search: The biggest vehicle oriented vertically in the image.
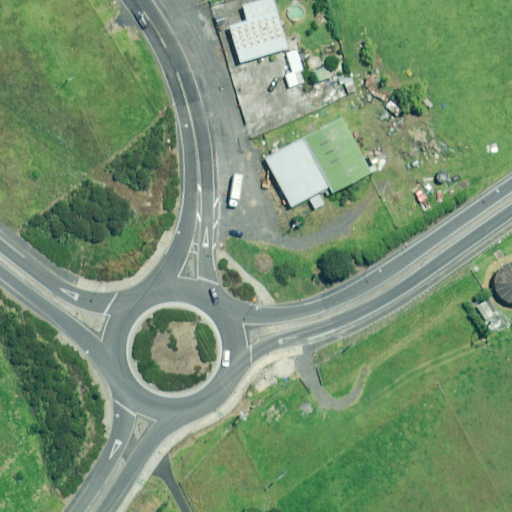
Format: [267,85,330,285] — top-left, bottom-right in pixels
[228,173,242,208]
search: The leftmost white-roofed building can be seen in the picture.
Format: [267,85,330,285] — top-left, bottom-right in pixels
[230,0,287,64]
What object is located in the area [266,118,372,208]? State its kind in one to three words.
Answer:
barn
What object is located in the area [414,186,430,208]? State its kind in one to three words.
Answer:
vehicle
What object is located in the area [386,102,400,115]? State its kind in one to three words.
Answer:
vehicle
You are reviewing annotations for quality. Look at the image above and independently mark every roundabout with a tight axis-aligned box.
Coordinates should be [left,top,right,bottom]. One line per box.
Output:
[87,254,276,429]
